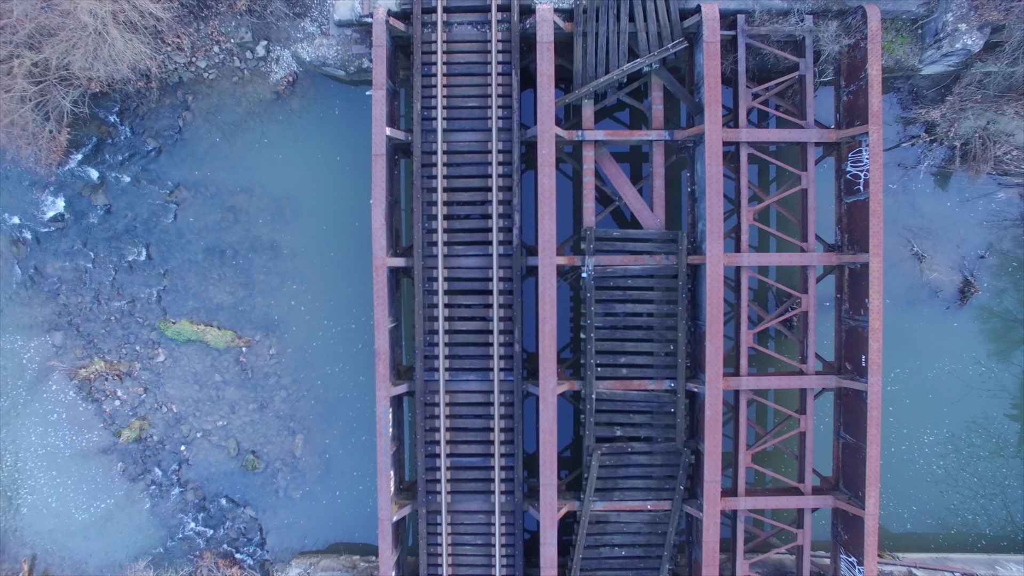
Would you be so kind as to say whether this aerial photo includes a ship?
No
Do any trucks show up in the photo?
No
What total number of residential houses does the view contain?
0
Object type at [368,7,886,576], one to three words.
bridge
